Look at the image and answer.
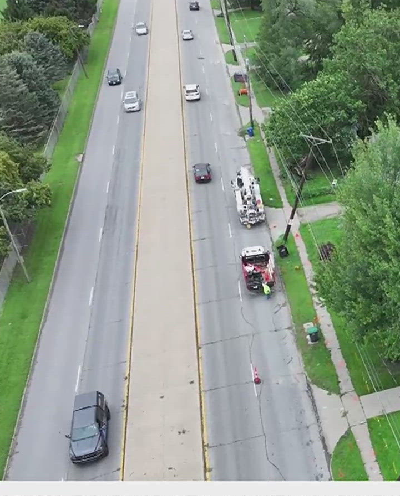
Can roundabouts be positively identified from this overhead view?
No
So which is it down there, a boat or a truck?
truck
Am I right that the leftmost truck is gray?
Yes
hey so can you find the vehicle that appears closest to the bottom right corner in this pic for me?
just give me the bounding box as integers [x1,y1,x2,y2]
[238,245,272,291]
